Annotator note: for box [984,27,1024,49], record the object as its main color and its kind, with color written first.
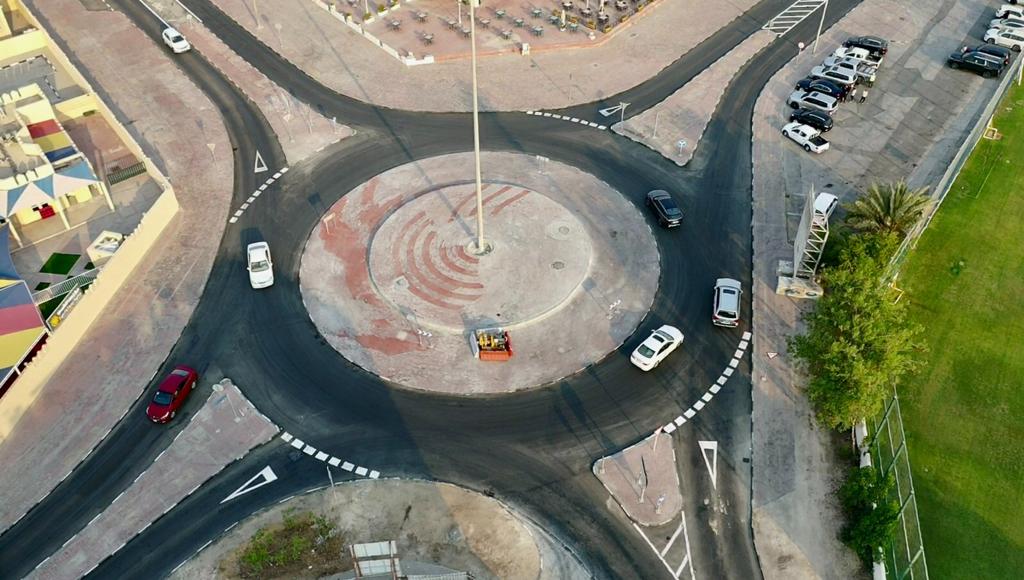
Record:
white car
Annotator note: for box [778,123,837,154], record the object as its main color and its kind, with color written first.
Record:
white truck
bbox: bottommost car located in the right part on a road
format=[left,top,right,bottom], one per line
[629,325,683,374]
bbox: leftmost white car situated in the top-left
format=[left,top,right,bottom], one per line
[162,27,190,53]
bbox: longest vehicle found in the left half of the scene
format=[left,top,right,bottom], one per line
[145,364,199,424]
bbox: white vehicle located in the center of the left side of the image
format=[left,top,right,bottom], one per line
[245,243,275,289]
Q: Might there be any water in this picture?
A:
No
